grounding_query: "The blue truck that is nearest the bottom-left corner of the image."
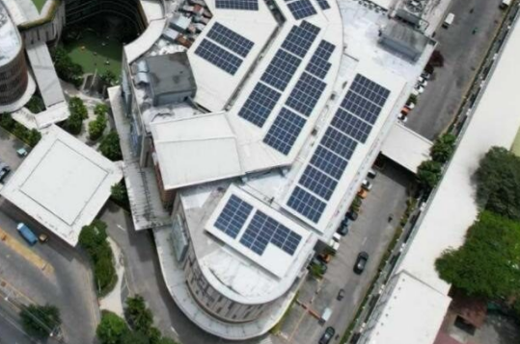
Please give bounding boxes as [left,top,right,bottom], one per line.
[16,221,38,248]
